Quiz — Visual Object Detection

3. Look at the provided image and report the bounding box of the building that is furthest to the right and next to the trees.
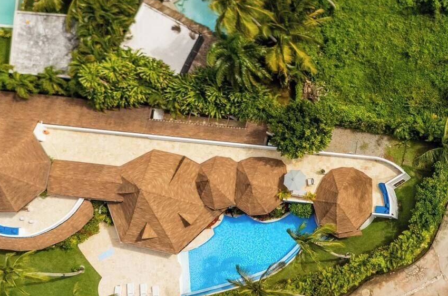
[313,166,376,238]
